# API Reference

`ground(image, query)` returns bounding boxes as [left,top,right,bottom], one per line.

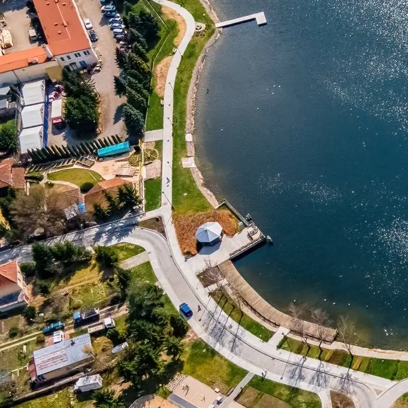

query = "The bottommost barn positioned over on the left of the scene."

[34,332,100,383]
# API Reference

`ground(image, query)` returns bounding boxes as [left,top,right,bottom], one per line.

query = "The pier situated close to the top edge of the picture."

[217,12,268,28]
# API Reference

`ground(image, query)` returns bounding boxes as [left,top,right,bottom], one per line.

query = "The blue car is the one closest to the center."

[179,300,193,318]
